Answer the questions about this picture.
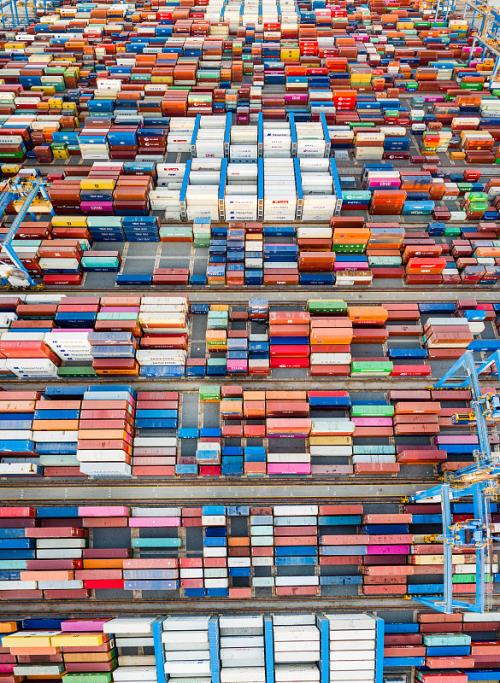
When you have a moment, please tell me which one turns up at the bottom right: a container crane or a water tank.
container crane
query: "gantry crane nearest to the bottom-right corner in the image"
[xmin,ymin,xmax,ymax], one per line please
[400,490,500,627]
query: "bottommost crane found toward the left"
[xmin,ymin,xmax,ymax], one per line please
[0,179,57,292]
